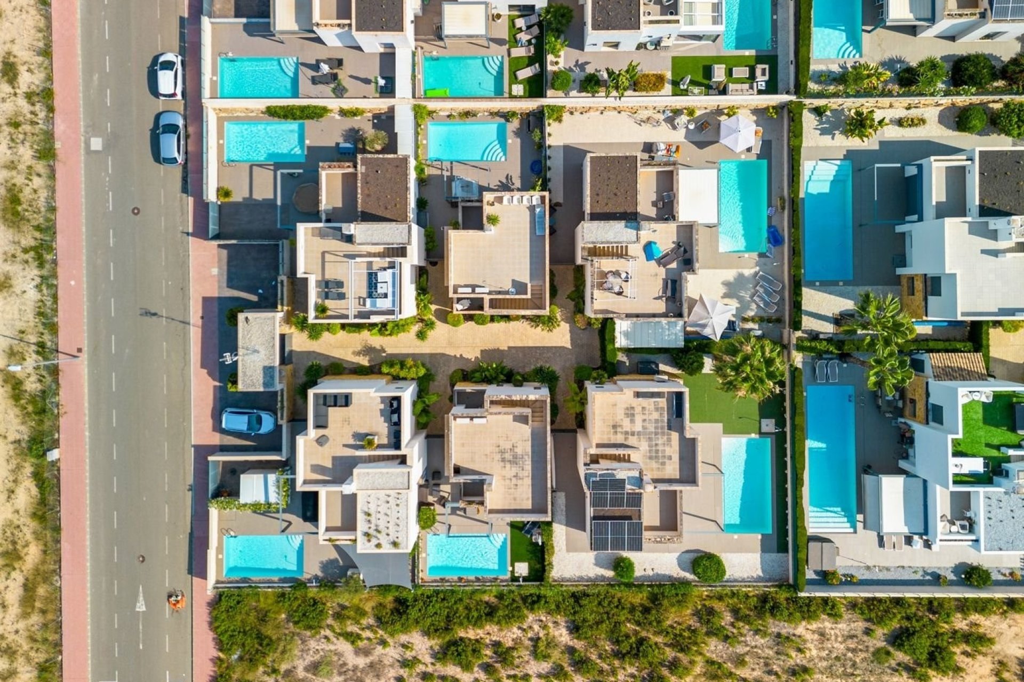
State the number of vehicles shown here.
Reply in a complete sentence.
The picture shows 3 vehicles.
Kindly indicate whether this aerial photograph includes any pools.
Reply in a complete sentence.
Yes, there's a pool down there.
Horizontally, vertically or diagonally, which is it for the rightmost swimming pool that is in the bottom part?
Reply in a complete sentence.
Seen from above, the rightmost swimming pool that is in the bottom part lies vertically.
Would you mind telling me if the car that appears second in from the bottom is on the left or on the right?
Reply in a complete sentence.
The car that appears second in from the bottom is on the left side of the image.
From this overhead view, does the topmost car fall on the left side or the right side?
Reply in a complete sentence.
The topmost car appears in the left half of the scene.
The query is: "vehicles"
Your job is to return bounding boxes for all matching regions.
[157,53,185,100]
[221,408,276,435]
[158,112,186,164]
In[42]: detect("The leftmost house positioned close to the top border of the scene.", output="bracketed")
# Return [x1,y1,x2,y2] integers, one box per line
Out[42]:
[312,0,414,51]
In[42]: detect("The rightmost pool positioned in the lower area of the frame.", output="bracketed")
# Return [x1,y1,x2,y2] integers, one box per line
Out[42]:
[806,384,866,535]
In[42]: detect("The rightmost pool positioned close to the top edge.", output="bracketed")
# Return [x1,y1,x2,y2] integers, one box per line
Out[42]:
[811,0,864,60]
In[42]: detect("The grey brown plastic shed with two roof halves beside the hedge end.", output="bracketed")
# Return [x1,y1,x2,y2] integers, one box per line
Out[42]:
[803,535,836,569]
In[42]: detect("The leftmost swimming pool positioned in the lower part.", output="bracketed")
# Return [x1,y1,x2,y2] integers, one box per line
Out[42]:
[222,530,305,580]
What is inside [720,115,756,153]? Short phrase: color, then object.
white umbrella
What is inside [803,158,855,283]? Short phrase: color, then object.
blue swimming pool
